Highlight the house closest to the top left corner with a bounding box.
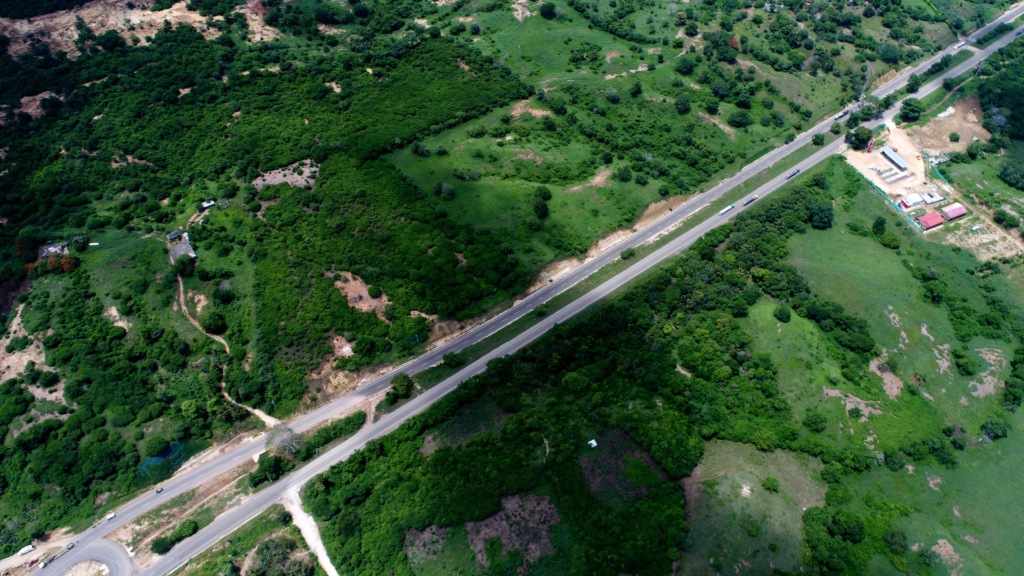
[39,242,71,261]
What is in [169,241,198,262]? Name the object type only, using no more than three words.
house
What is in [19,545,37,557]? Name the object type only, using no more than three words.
vehicle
